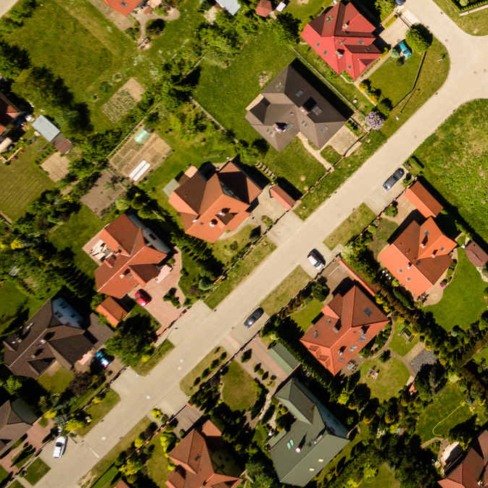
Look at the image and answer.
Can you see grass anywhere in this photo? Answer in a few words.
Yes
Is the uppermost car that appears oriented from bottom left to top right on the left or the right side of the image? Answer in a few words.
right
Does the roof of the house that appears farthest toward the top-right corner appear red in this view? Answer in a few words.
Yes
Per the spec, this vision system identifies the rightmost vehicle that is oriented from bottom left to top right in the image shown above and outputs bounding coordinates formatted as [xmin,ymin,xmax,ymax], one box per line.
[381,166,407,193]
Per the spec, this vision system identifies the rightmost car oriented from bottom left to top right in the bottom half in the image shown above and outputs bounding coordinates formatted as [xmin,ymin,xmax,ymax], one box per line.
[240,304,268,331]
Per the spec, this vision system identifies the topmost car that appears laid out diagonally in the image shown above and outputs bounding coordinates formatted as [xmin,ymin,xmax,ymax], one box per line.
[396,37,414,60]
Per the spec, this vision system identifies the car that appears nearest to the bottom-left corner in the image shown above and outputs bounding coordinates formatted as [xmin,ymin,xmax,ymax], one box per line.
[52,432,71,462]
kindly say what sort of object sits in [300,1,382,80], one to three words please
house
